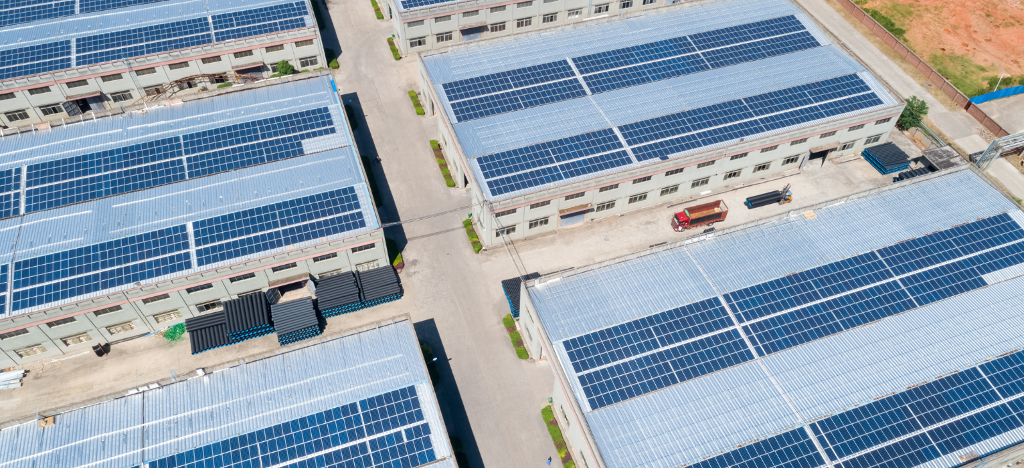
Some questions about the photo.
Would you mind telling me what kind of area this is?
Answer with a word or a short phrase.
industrial area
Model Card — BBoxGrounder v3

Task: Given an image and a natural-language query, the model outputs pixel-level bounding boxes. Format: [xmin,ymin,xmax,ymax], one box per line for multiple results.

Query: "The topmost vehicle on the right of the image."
[778,185,794,205]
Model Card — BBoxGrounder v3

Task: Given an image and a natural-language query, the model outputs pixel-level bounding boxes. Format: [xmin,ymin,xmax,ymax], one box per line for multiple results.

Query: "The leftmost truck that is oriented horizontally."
[670,201,729,230]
